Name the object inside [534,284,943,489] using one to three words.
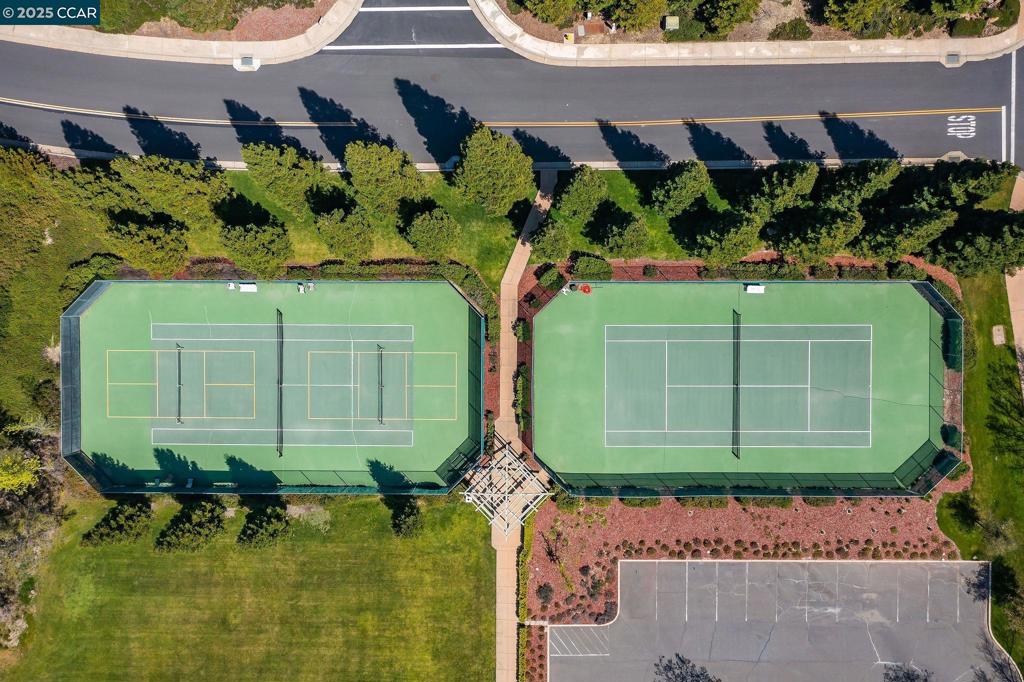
tennis court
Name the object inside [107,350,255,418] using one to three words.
sports court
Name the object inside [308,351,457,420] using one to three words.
sports court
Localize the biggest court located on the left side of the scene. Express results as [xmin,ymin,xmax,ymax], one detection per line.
[80,283,484,488]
